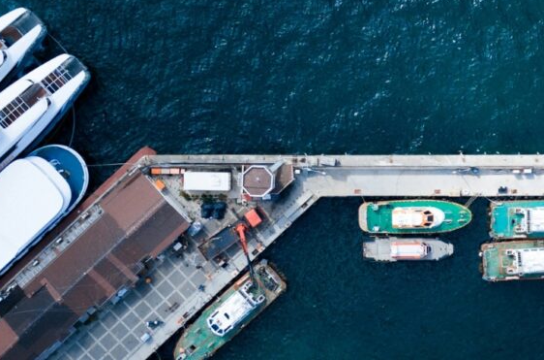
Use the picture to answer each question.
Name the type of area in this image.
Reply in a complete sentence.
This looks like a port.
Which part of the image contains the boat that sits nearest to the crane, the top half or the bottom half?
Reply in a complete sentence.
The bottom half of the photo is where the boat that sits nearest to the crane is.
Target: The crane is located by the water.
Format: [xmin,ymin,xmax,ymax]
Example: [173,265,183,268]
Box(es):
[232,219,262,295]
